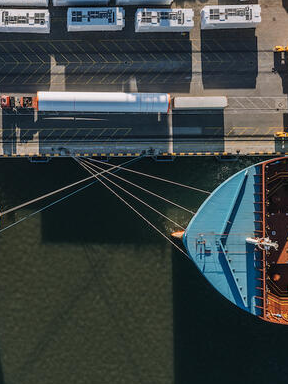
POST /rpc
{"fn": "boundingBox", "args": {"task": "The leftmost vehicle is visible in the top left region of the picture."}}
[2,95,37,109]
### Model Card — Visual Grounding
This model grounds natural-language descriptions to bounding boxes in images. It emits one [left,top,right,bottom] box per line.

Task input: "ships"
[171,157,288,325]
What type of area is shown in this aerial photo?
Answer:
port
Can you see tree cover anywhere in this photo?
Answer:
No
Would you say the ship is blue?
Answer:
Yes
